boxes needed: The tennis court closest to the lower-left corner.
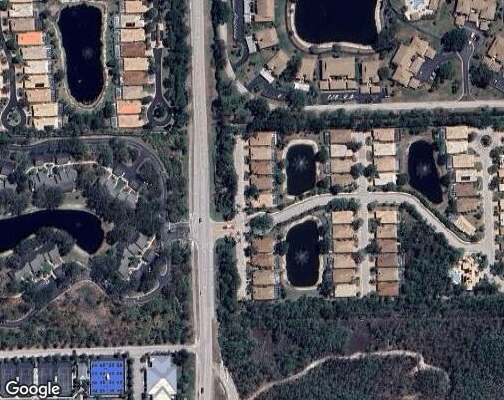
[0,361,34,397]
